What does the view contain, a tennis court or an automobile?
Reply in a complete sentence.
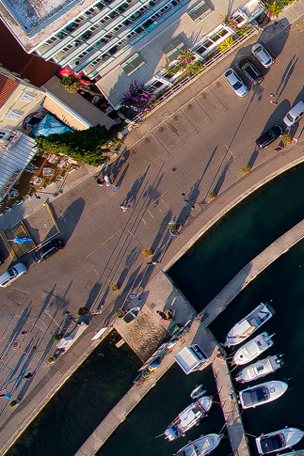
This aerial view contains an automobile.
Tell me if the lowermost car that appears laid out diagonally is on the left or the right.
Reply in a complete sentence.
The lowermost car that appears laid out diagonally is on the left side of the image.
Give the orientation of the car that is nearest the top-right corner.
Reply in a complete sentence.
The car that is nearest the top-right corner has been laid out at an angle relative to the frame.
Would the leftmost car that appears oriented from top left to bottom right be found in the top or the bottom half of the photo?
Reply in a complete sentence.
The leftmost car that appears oriented from top left to bottom right sits in the top half of the picture.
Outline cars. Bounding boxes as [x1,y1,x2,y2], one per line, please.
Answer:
[239,56,266,89]
[30,237,68,265]
[249,40,277,72]
[0,260,33,289]
[281,100,304,130]
[223,68,250,99]
[255,124,288,150]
